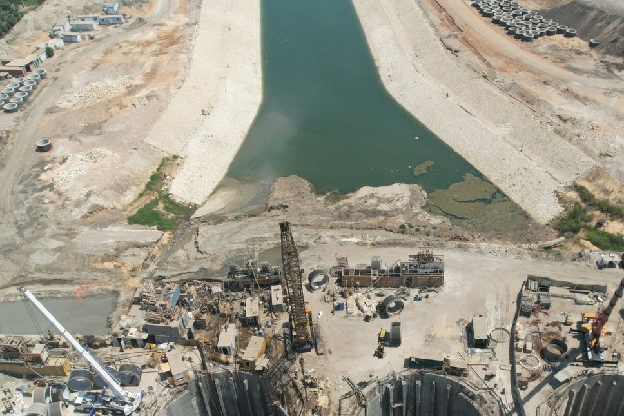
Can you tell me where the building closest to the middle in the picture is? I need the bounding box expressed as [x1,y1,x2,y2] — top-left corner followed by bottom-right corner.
[272,285,288,316]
